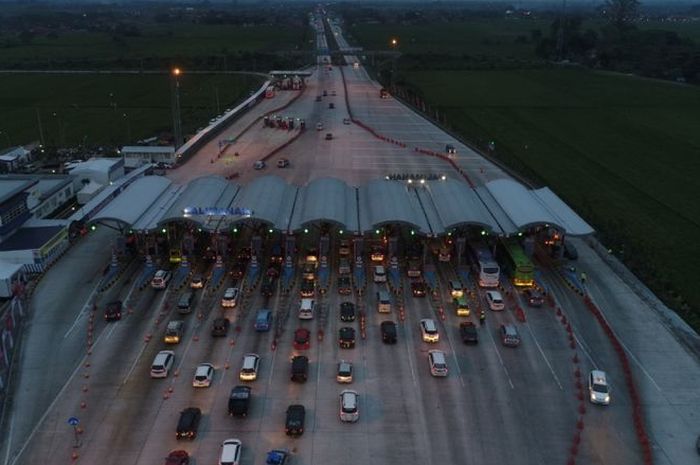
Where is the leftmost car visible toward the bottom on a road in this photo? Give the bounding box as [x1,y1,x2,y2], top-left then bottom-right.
[100,302,125,323]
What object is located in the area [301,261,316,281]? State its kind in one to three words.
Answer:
vehicle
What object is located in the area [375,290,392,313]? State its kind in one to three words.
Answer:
vehicle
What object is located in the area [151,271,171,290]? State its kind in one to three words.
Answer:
car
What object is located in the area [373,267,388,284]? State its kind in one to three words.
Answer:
car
